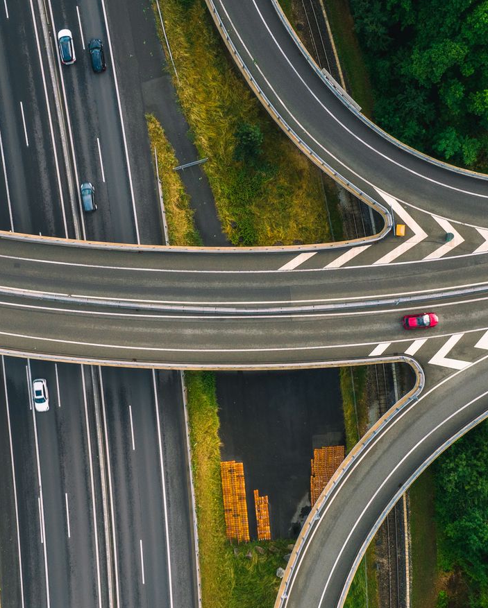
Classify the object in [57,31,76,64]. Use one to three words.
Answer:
car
